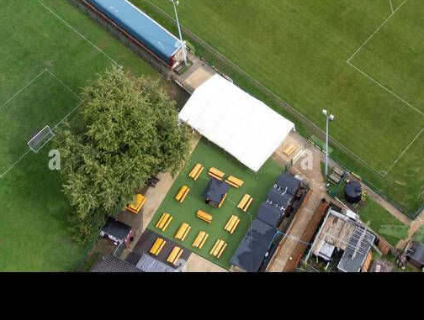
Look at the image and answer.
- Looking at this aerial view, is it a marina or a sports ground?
sports ground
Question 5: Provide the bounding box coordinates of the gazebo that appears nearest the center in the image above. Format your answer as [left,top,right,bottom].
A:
[201,177,230,210]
